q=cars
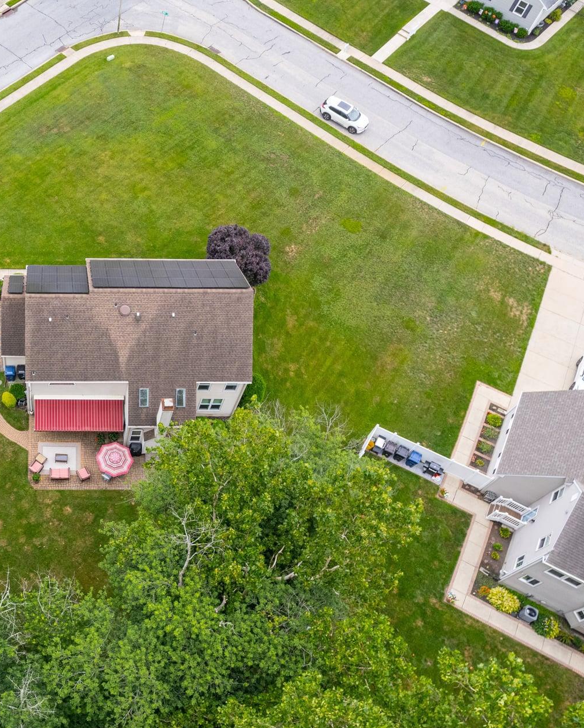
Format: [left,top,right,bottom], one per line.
[320,93,372,135]
[568,352,584,390]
